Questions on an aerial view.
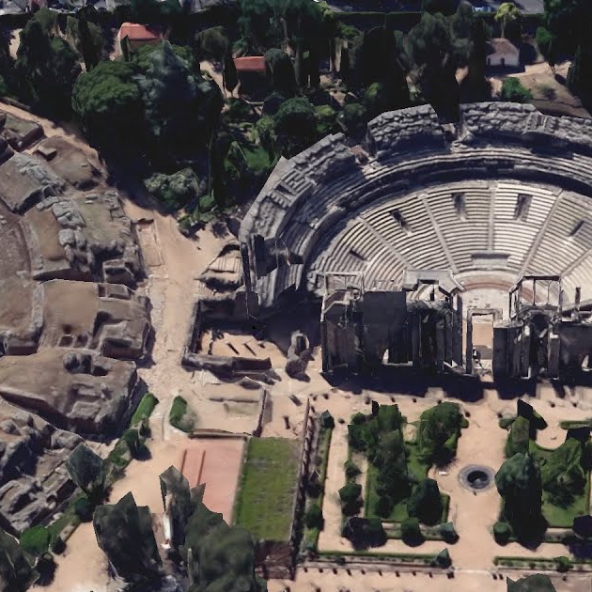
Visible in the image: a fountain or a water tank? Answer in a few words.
fountain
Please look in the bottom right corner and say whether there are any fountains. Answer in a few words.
Yes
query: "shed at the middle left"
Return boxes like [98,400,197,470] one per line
[137,214,164,265]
